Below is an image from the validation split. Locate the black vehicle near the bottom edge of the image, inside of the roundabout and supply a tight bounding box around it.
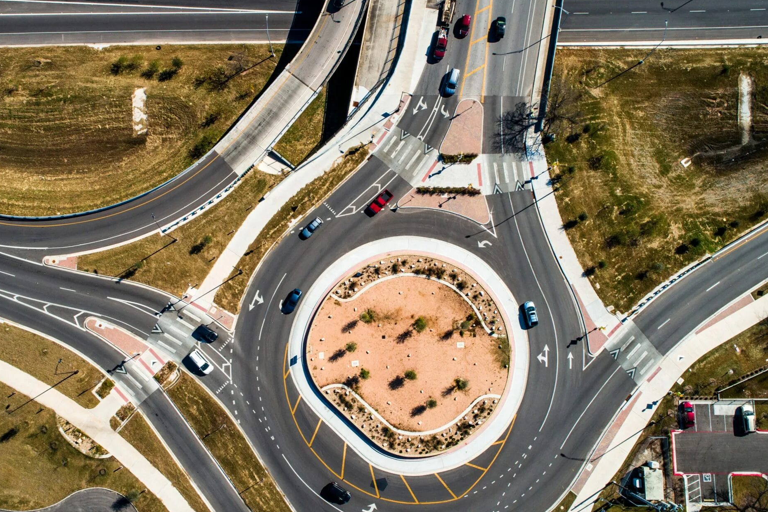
[325,484,351,504]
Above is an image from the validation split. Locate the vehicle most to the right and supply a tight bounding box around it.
[739,404,758,433]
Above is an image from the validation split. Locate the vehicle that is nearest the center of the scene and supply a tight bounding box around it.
[370,189,394,214]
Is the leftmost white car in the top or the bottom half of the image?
bottom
